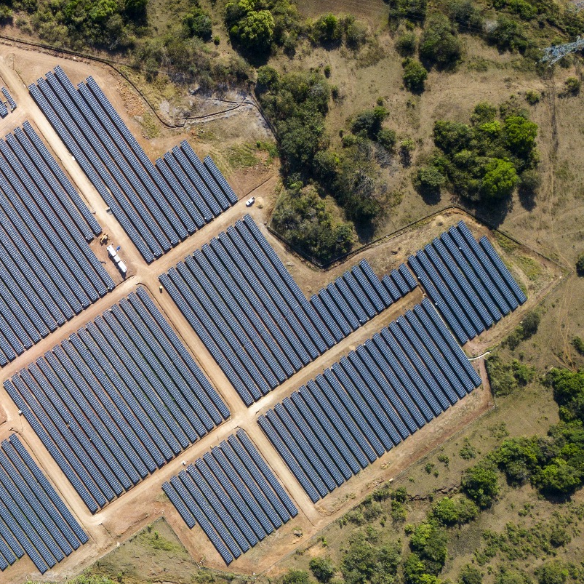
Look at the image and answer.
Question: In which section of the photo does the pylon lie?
top right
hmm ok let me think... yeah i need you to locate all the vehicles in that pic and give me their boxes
[99,233,109,243]
[244,198,256,207]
